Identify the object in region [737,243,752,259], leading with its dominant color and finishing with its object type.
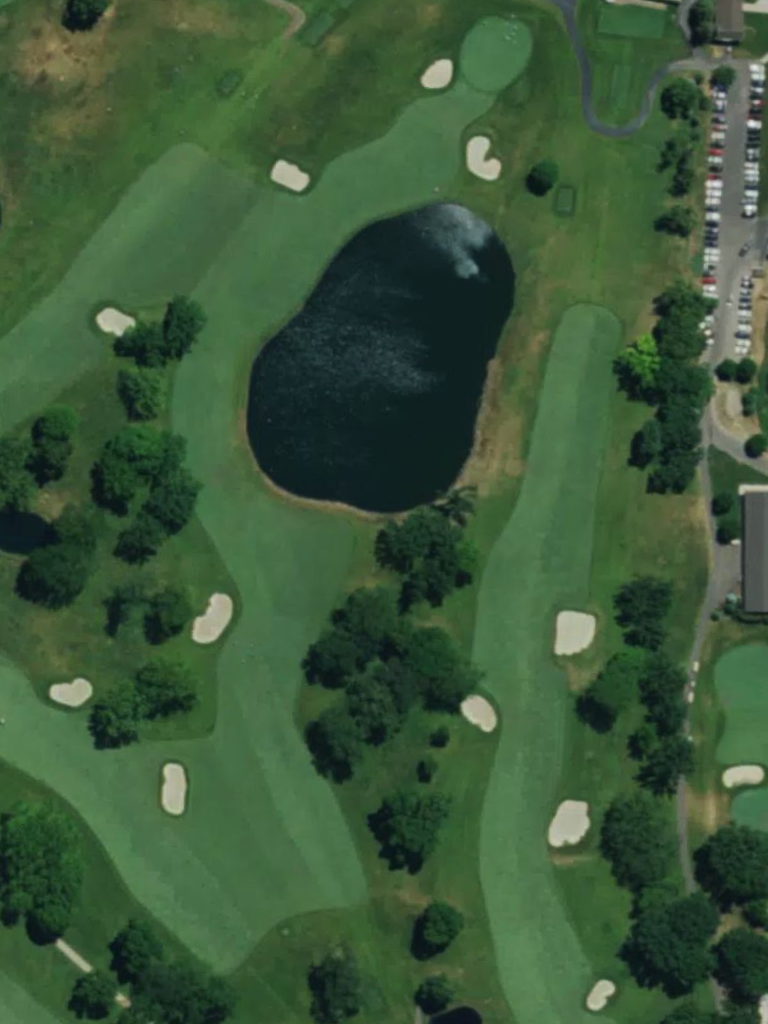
gray vehicle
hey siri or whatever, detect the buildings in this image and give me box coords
[716,0,743,41]
[744,492,768,613]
